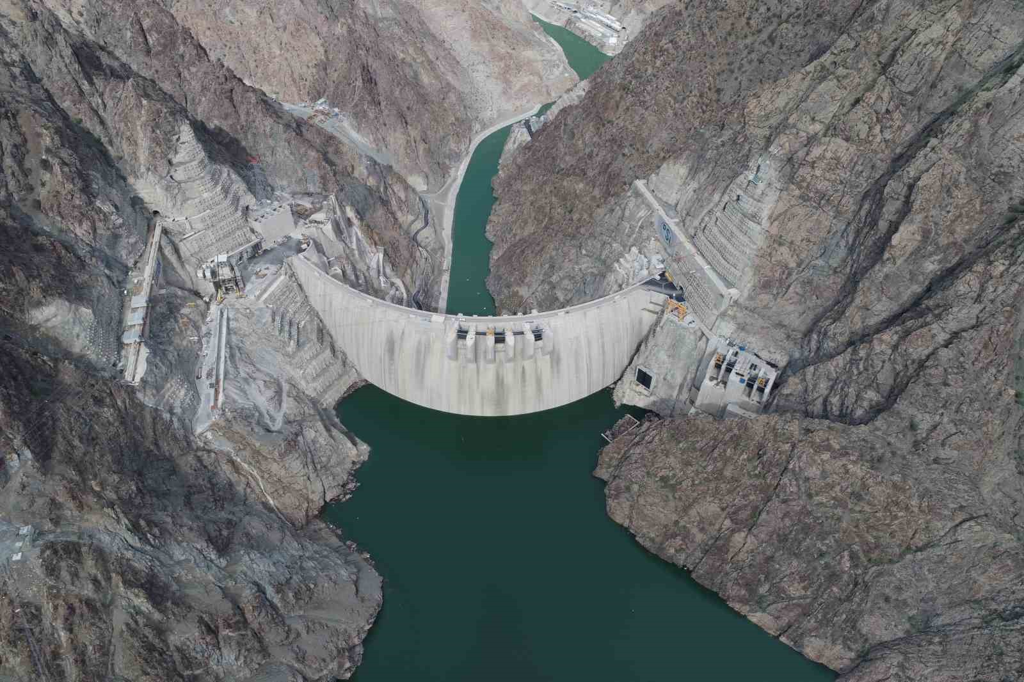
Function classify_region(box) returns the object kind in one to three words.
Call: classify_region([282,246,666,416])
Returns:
dam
